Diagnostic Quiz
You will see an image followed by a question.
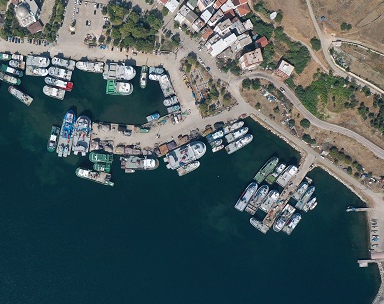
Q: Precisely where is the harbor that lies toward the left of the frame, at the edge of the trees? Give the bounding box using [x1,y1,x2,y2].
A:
[0,41,253,158]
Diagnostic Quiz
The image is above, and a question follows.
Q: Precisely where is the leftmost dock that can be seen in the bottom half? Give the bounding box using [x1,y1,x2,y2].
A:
[261,164,312,230]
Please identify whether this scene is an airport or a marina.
marina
